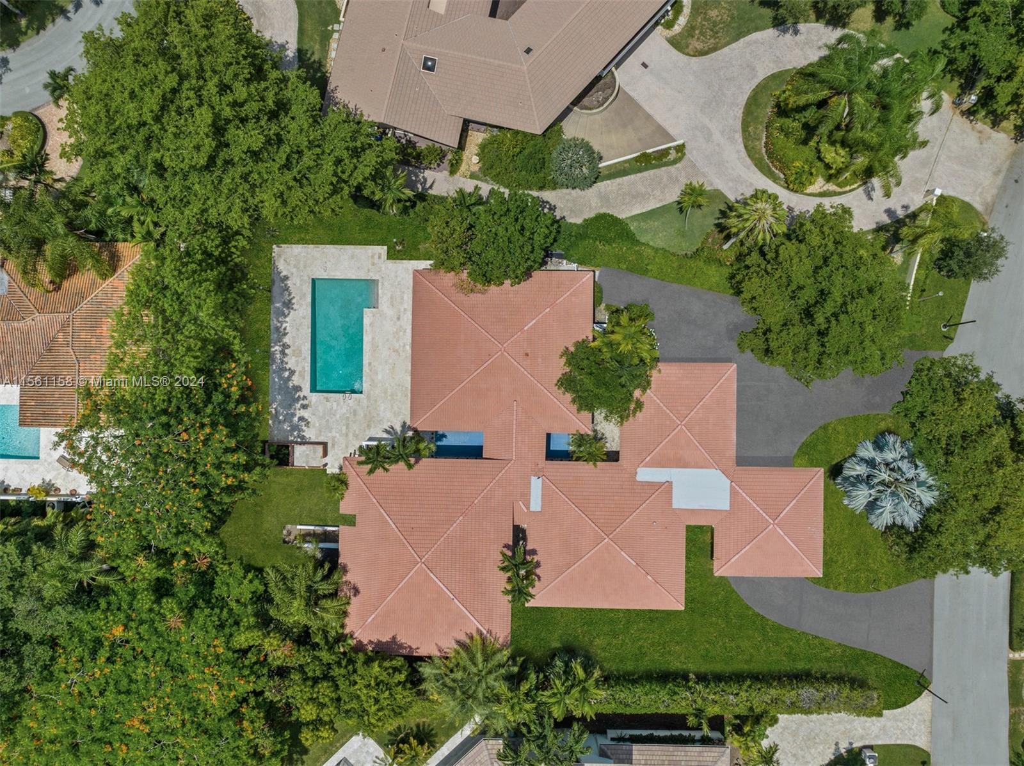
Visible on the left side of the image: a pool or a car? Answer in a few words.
pool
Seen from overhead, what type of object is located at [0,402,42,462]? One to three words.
swimming pool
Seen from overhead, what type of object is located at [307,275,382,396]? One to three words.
swimming pool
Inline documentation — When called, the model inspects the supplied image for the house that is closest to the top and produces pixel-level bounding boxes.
[322,0,679,148]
